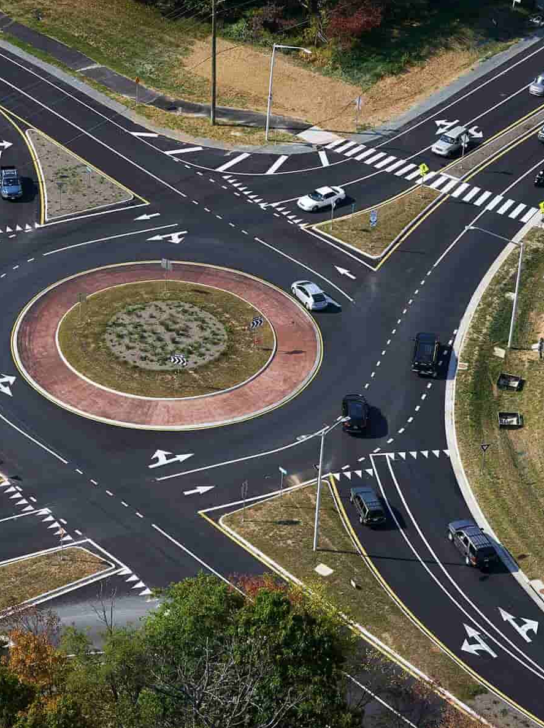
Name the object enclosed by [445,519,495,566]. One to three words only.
car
